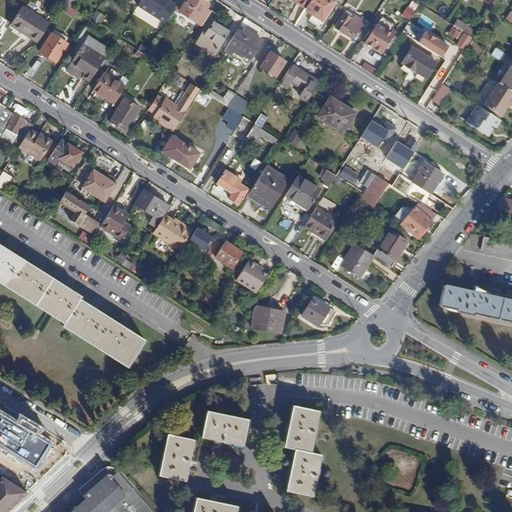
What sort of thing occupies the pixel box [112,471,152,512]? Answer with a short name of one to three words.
building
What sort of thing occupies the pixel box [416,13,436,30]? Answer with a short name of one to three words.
swimming pool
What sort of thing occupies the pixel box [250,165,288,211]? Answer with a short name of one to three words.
house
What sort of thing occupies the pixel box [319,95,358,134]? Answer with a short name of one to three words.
house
